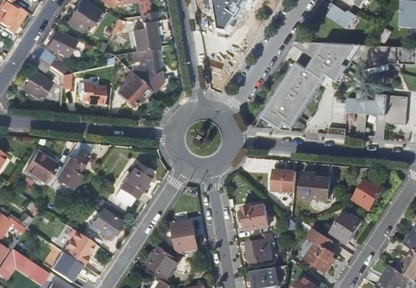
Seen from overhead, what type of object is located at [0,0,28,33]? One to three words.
house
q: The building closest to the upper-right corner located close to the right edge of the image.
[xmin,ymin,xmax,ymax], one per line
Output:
[399,0,416,28]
